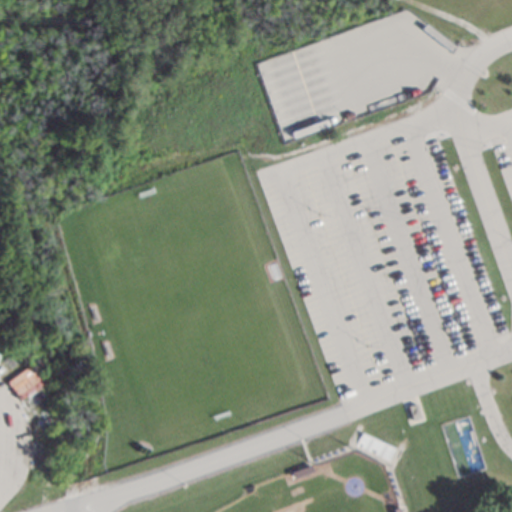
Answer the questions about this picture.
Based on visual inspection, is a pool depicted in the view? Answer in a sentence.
Yes, the picture does show a pool.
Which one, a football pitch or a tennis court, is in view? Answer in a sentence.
This aerial view contains a football pitch.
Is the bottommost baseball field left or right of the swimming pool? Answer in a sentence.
Relative to the swimming pool, the bottommost baseball field is on the left.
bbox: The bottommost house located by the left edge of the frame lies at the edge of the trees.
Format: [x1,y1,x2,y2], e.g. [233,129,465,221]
[8,368,44,402]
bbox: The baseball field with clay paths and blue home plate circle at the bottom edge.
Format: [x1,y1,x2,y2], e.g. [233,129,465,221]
[211,452,399,512]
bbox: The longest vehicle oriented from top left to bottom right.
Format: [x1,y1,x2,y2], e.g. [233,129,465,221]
[416,22,456,52]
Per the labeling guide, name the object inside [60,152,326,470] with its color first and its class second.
green soccer field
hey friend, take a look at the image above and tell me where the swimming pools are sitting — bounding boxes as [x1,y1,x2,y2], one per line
[442,415,487,478]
